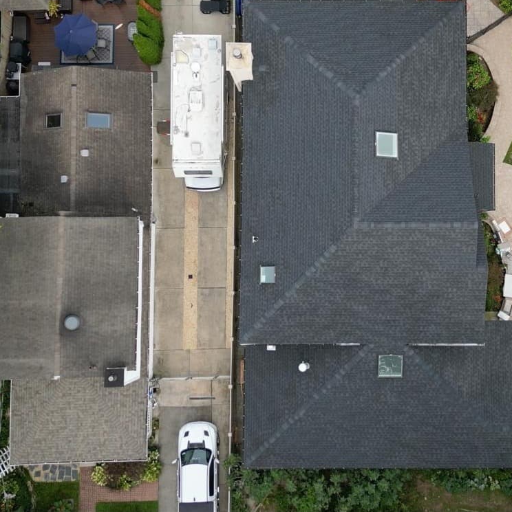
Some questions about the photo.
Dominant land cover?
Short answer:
buildings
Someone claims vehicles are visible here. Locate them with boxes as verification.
[172,32,230,193]
[172,419,222,512]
